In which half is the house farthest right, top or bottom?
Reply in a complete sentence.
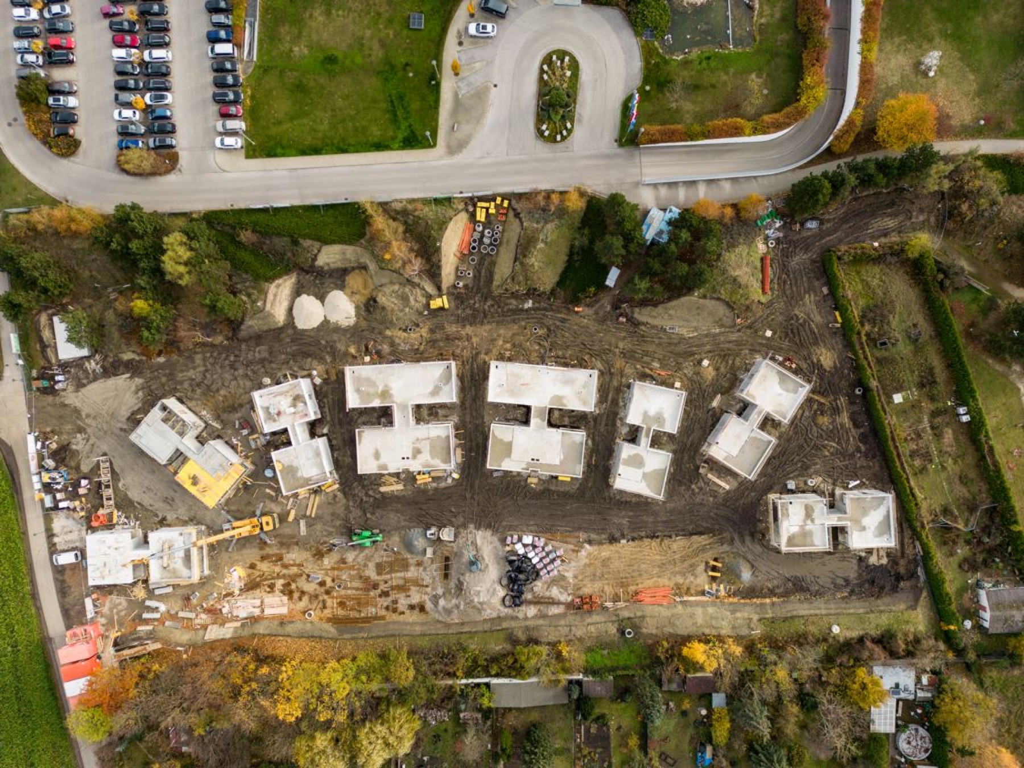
You can find the house farthest right in the bottom half.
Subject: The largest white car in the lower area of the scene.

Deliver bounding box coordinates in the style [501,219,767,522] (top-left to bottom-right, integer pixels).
[50,550,83,565]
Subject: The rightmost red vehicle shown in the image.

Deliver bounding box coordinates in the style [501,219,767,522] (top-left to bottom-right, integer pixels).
[220,104,243,118]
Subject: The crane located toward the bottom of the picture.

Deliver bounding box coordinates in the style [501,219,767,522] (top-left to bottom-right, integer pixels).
[122,500,279,567]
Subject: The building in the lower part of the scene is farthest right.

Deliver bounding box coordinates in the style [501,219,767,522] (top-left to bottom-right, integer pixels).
[978,586,1024,633]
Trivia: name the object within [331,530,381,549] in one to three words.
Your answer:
work vehicle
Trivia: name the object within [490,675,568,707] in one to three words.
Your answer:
shed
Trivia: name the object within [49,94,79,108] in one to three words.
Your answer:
car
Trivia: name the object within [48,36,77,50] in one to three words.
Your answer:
car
